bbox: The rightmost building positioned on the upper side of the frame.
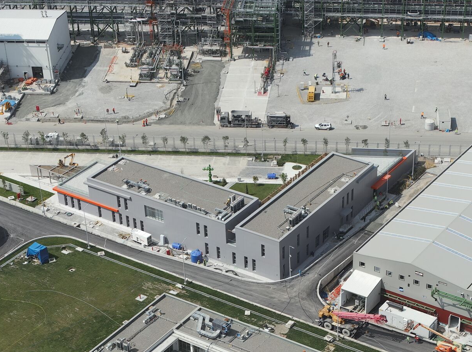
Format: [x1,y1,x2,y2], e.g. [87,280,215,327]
[437,105,452,130]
